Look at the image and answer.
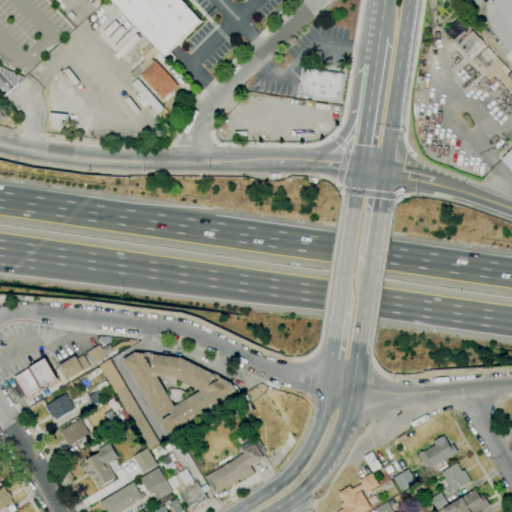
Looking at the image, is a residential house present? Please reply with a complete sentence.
Yes, there's a residential house down there.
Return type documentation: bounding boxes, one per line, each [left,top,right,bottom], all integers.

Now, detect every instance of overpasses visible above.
[322,200,395,341]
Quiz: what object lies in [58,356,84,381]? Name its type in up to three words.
building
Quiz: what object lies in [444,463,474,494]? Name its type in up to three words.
house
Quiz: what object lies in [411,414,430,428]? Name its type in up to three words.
vehicle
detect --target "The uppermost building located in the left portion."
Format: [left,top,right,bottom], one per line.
[112,0,203,56]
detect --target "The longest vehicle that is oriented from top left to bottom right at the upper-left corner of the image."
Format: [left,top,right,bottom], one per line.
[64,67,82,88]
